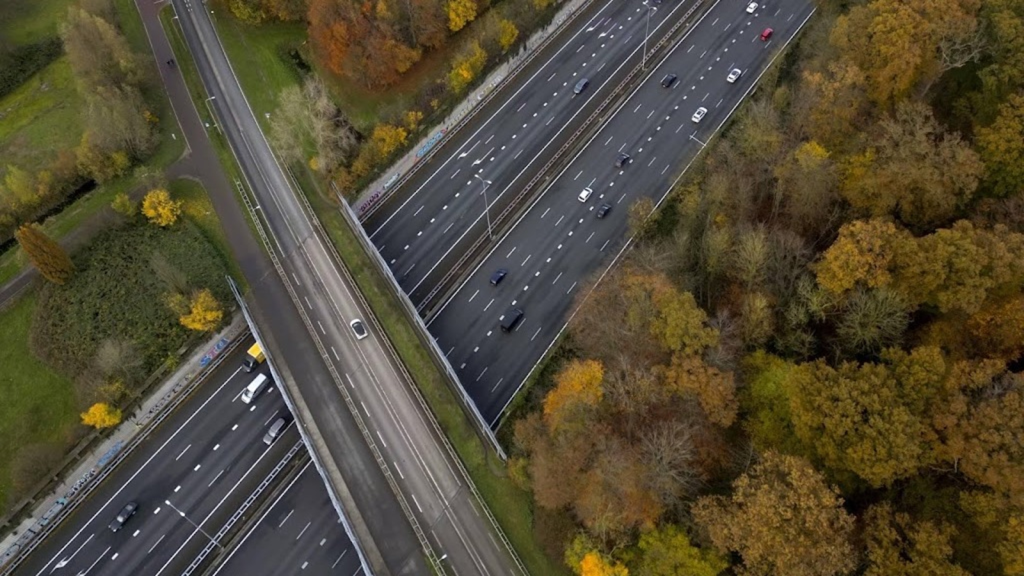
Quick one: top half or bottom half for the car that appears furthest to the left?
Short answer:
bottom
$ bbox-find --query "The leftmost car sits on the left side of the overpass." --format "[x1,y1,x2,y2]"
[107,501,140,532]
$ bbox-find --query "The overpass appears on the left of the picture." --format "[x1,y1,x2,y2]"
[231,193,507,576]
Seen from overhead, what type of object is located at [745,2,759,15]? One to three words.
vehicle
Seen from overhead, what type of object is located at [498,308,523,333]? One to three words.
vehicle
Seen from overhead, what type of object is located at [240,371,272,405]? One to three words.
van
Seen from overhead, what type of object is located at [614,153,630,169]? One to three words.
car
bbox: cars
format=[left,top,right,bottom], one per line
[595,203,613,221]
[651,0,664,8]
[726,69,741,84]
[350,318,370,342]
[760,29,772,42]
[107,501,140,532]
[661,75,676,89]
[691,108,707,123]
[614,153,630,169]
[573,77,590,94]
[745,2,759,15]
[260,418,289,446]
[577,188,594,204]
[488,268,509,289]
